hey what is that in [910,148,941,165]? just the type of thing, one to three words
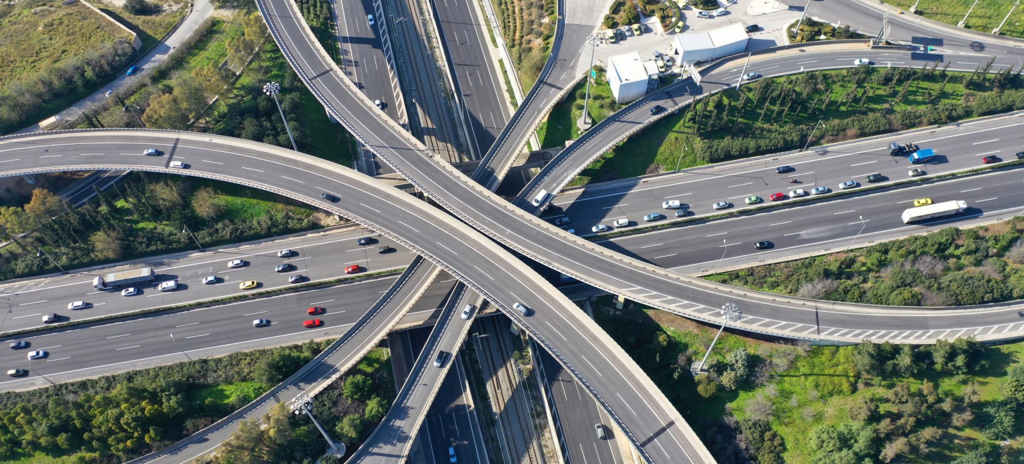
vehicle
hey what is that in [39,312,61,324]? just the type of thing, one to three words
vehicle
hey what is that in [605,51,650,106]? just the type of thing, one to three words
shed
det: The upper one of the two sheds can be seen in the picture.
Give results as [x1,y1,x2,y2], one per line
[674,22,750,67]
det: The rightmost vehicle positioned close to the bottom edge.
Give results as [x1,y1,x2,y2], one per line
[594,421,606,441]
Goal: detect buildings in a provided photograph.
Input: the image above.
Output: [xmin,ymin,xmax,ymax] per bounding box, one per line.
[674,22,750,67]
[605,51,650,106]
